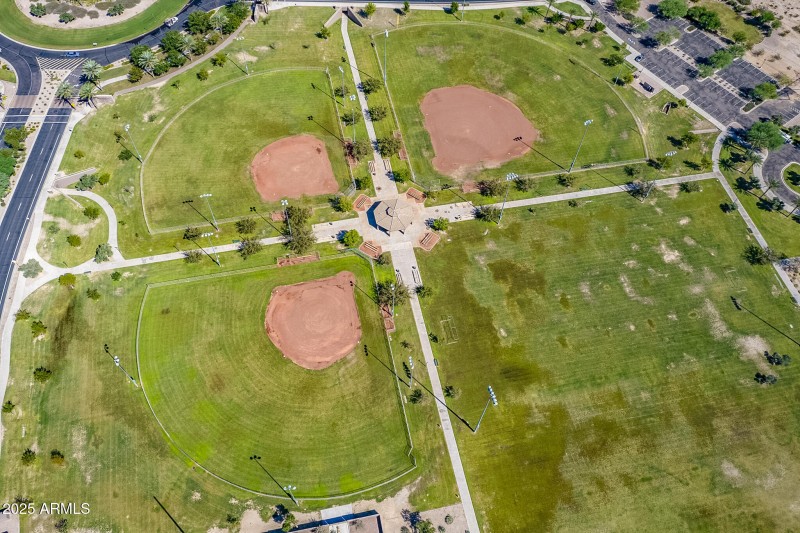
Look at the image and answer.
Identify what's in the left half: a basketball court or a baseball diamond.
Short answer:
baseball diamond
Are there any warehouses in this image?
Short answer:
No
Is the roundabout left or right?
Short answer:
left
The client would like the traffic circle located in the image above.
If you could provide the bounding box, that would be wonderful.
[0,0,219,70]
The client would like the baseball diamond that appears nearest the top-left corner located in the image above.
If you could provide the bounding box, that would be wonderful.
[139,66,358,235]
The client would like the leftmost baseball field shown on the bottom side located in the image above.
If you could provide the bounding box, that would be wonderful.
[136,252,417,500]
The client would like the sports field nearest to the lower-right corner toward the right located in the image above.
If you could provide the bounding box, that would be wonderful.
[414,180,800,533]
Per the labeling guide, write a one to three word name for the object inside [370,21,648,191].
baseball field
